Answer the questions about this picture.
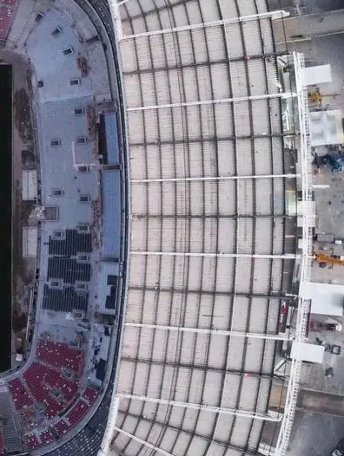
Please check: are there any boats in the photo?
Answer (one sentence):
No, no boat can be seen from above.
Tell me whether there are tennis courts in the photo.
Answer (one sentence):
No, the frame has no tennis court in it.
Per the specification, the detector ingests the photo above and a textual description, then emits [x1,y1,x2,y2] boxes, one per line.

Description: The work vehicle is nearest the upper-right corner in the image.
[308,85,342,110]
